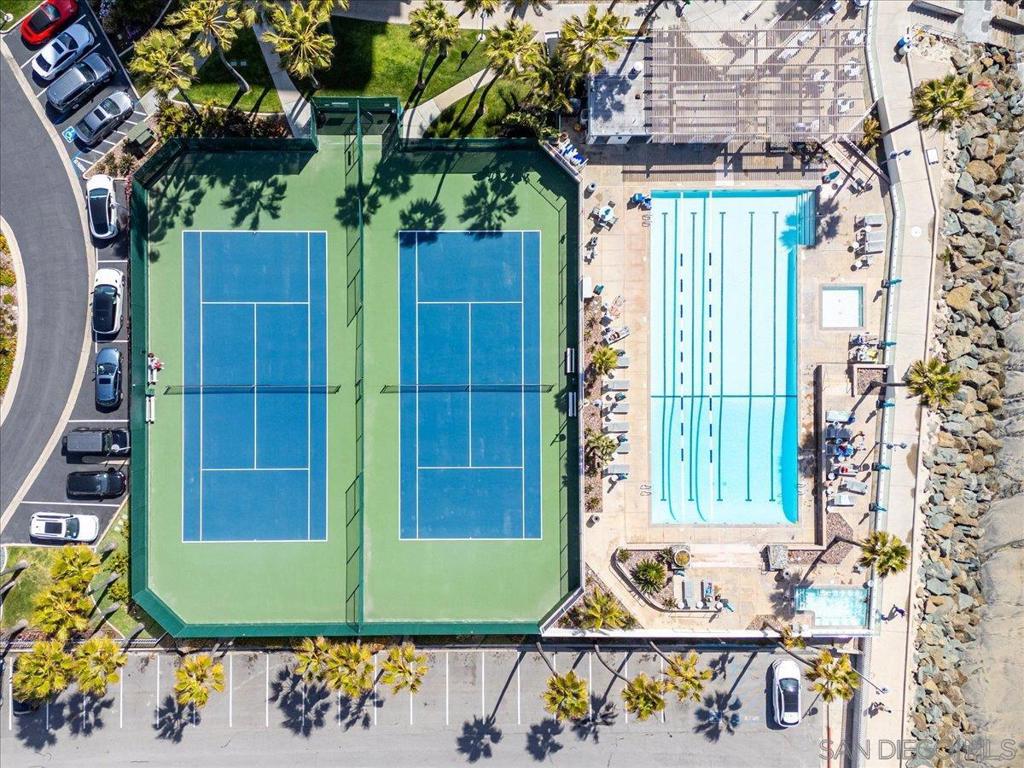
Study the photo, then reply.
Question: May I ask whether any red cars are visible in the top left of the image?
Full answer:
Yes, a red car shows up in the top left of the image.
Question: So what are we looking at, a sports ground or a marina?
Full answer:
This image shows a sports ground.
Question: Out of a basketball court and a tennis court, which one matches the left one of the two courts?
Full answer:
The left one of the two courts in the image is a tennis court.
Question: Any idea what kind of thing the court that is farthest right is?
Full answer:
Specifically, the court that is farthest right is a tennis court.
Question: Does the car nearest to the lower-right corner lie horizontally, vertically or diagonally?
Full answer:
The car nearest to the lower-right corner is oriented vertically.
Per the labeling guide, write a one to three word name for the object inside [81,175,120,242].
car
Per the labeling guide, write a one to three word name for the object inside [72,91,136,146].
car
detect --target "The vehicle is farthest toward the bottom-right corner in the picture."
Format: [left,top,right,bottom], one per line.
[770,656,800,726]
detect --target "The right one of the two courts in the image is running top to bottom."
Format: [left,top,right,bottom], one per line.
[363,111,577,624]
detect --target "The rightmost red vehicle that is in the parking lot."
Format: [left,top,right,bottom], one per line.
[18,0,81,47]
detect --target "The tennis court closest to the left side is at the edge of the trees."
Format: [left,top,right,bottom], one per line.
[149,111,363,625]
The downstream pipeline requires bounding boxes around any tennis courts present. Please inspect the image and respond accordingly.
[149,111,363,625]
[363,111,577,624]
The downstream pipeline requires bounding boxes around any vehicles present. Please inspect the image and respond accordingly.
[770,656,800,726]
[64,471,129,500]
[89,268,126,334]
[72,91,136,146]
[89,348,123,410]
[18,0,81,47]
[81,175,120,242]
[27,512,102,543]
[59,428,129,458]
[29,26,96,80]
[46,54,114,109]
